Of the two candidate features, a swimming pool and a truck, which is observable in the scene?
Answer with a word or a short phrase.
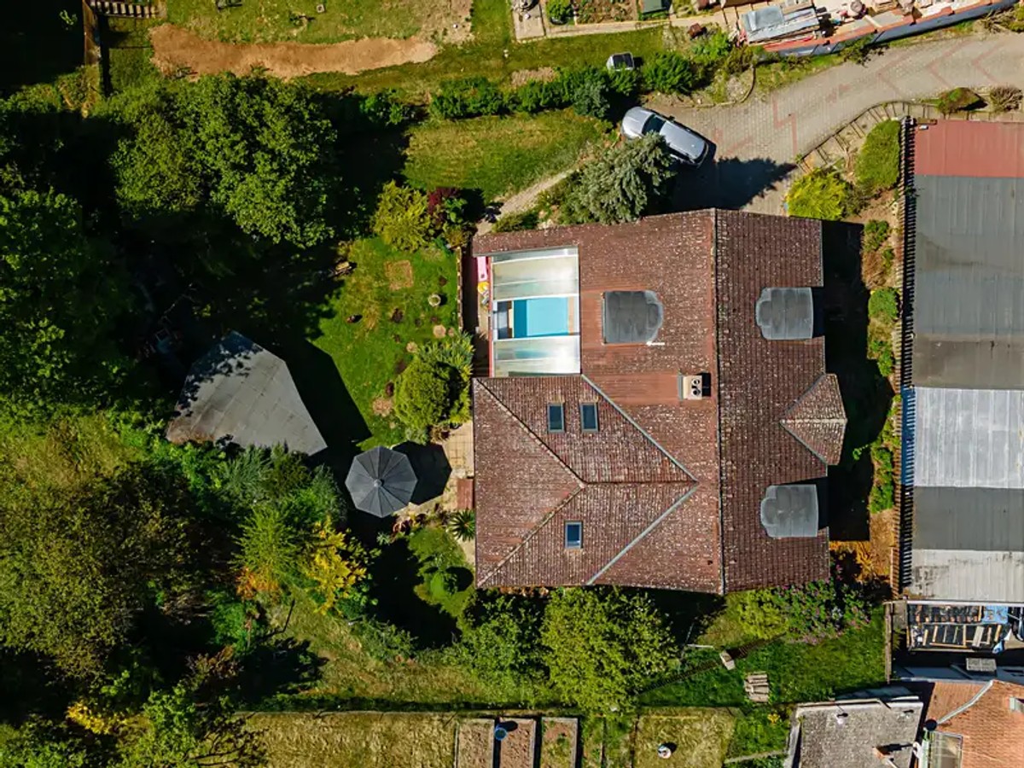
swimming pool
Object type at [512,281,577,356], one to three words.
swimming pool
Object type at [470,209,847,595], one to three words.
house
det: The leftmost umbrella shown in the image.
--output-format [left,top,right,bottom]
[346,446,418,519]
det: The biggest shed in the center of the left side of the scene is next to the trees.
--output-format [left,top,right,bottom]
[166,331,327,455]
